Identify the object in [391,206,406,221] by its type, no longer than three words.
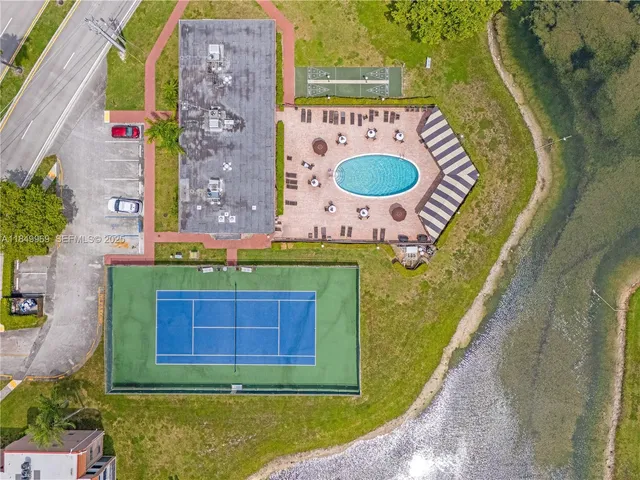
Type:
umbrella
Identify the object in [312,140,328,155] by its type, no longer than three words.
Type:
umbrella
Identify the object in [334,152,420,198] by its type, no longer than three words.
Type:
swimming pool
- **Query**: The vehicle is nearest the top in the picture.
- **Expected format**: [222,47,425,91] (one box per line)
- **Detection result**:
[112,125,141,139]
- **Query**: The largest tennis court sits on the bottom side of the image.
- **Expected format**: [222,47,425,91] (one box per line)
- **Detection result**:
[111,265,361,392]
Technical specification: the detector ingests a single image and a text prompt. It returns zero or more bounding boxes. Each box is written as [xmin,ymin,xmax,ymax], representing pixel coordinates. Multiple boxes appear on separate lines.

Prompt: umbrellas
[312,140,328,155]
[391,206,406,221]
